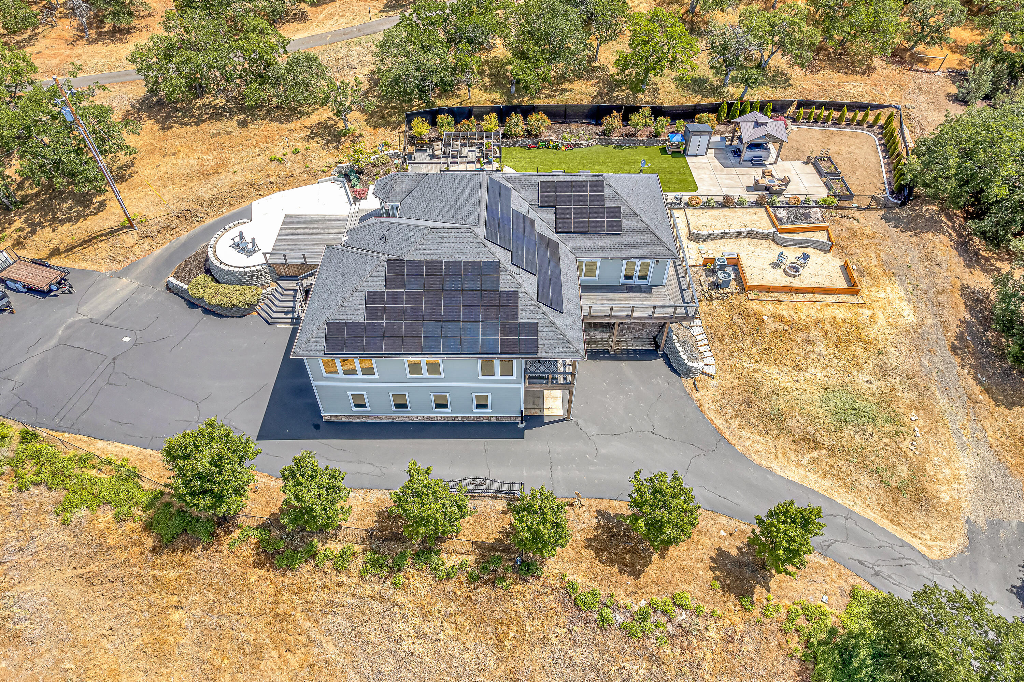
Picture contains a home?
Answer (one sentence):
Yes, the frame does contain a home.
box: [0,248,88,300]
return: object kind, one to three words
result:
trailer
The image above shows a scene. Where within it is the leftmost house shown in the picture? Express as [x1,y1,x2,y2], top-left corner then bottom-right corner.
[290,164,680,430]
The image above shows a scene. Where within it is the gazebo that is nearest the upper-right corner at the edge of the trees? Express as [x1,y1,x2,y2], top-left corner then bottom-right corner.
[732,107,791,164]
